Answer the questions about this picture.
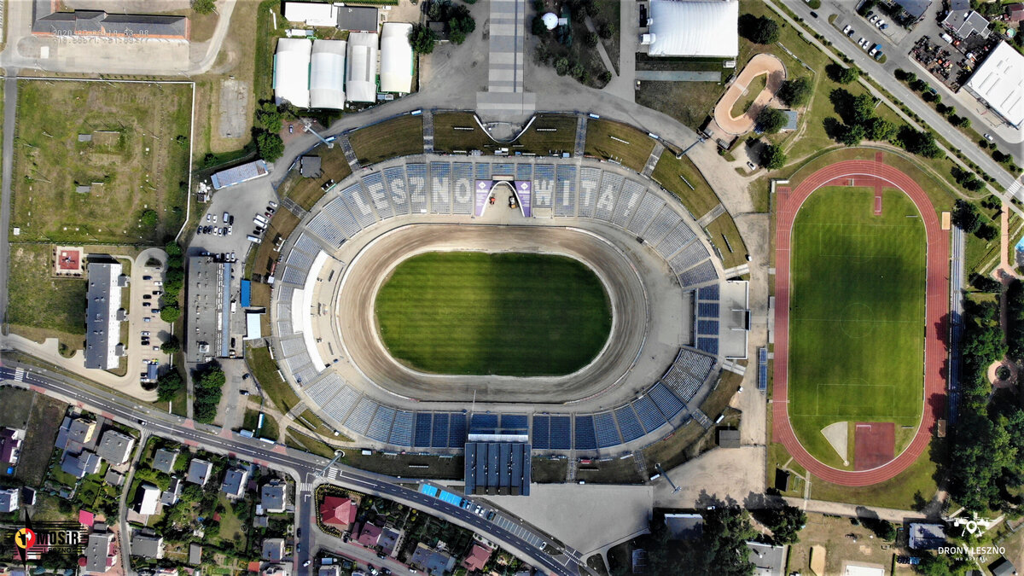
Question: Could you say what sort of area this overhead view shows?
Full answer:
The area seen from above is a sports ground.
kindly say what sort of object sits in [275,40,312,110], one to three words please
building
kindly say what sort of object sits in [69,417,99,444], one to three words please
house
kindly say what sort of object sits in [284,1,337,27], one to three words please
shed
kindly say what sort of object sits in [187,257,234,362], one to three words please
building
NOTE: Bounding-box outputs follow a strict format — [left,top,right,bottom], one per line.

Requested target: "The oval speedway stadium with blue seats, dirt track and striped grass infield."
[245,111,750,484]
